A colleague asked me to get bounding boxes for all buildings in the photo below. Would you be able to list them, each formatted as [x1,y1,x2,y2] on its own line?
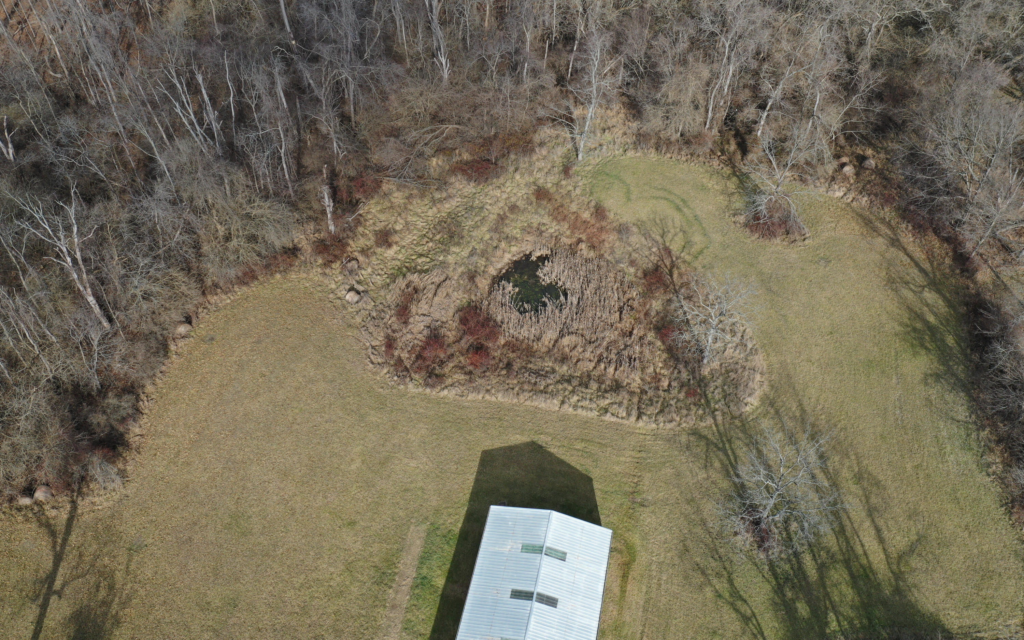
[452,504,614,640]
